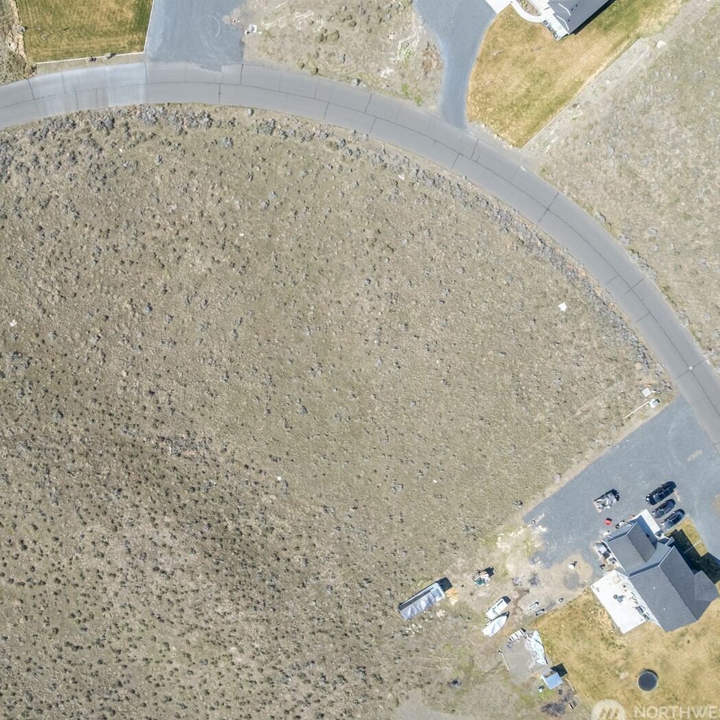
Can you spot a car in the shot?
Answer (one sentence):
Yes, there's a car here.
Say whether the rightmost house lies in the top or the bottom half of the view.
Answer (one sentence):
It is in the bottom half that the rightmost house appears.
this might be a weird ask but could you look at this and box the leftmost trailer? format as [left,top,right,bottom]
[399,580,448,619]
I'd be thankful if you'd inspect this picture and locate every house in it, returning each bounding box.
[602,522,720,633]
[533,0,608,36]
